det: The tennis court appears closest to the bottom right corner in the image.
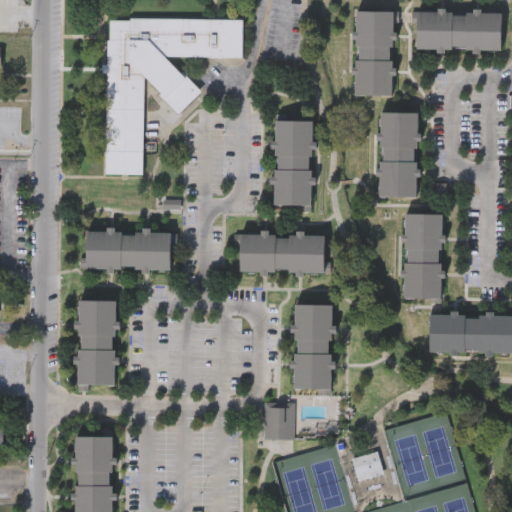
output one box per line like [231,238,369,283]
[434,484,474,512]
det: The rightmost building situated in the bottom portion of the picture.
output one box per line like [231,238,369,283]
[430,313,512,356]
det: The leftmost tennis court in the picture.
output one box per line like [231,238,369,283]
[276,454,322,512]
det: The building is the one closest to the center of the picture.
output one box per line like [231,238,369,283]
[238,231,330,276]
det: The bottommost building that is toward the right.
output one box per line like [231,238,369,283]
[354,452,384,482]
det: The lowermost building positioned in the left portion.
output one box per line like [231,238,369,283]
[72,438,116,512]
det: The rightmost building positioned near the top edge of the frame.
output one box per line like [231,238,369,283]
[413,8,504,54]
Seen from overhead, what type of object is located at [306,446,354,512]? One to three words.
tennis court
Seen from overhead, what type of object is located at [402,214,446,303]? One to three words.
building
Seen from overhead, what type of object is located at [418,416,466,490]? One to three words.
tennis court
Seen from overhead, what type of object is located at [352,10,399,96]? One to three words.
building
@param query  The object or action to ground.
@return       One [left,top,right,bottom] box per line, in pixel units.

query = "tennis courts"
[306,446,354,512]
[276,454,322,512]
[370,492,440,512]
[386,422,435,500]
[418,416,466,490]
[434,484,474,512]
